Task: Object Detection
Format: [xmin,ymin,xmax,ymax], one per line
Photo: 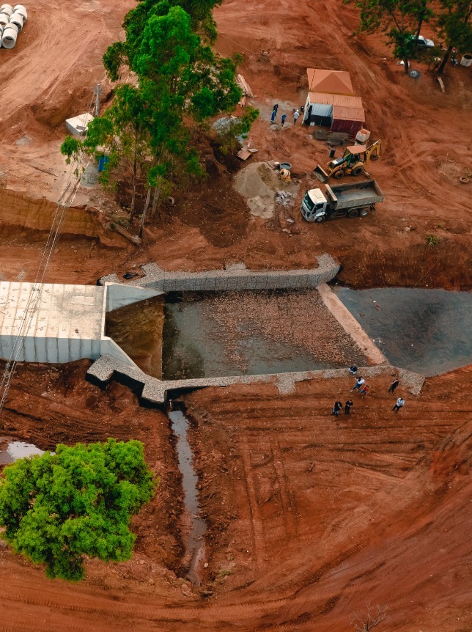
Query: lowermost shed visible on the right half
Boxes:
[304,92,365,142]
